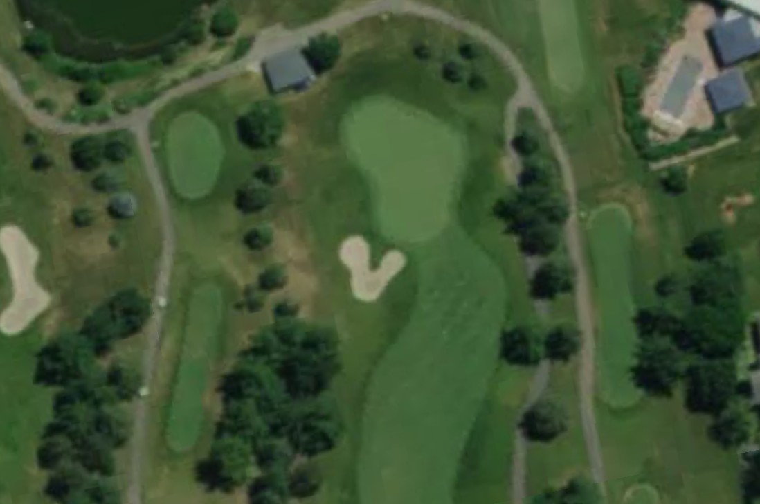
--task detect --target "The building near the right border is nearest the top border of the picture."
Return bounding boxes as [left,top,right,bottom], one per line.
[715,15,760,63]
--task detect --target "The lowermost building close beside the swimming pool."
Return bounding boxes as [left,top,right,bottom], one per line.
[707,66,747,110]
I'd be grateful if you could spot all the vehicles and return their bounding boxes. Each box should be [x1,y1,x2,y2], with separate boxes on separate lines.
[141,386,147,396]
[158,297,164,307]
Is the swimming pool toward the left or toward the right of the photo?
right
